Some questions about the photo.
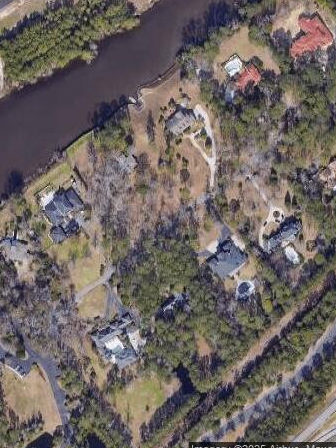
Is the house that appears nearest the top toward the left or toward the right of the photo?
right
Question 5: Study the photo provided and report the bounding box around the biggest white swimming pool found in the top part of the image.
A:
[223,57,243,75]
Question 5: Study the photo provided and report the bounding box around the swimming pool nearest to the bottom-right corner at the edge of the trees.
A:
[236,279,253,296]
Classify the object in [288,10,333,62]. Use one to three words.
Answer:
house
